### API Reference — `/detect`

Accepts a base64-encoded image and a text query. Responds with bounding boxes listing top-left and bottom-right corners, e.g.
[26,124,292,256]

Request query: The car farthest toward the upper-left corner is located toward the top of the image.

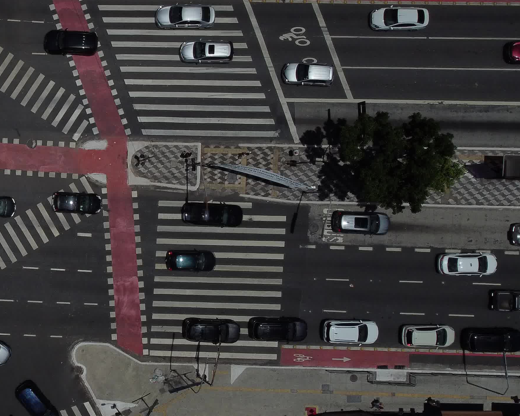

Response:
[43,26,97,56]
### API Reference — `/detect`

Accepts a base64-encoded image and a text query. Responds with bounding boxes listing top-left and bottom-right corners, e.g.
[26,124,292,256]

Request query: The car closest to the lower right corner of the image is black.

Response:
[457,327,520,355]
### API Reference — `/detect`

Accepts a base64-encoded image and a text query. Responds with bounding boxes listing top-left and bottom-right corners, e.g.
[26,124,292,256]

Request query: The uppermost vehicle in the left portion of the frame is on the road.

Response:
[153,2,214,31]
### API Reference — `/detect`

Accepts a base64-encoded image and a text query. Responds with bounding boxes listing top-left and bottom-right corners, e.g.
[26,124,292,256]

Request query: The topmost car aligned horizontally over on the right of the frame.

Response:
[366,4,429,33]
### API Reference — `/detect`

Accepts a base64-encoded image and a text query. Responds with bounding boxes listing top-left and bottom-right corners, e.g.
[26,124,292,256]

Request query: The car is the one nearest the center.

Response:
[180,201,242,228]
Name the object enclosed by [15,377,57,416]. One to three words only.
car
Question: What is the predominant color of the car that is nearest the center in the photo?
black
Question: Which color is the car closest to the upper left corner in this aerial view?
black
